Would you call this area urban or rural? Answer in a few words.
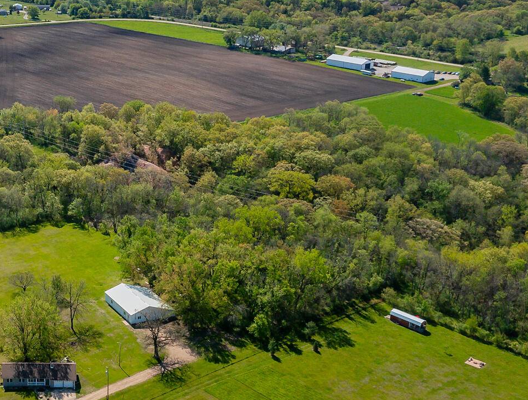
rural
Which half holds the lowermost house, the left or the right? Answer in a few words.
left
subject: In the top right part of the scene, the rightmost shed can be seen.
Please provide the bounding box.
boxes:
[392,66,431,82]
